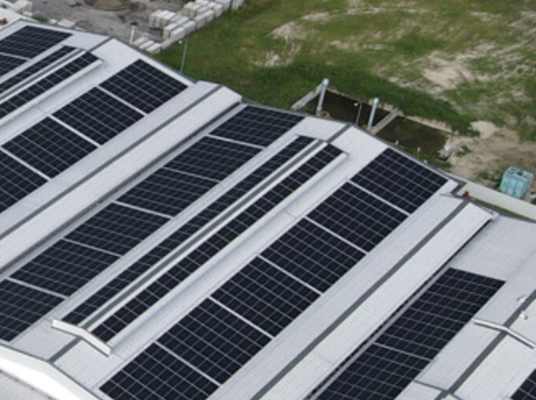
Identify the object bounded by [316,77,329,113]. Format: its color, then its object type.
gray chimney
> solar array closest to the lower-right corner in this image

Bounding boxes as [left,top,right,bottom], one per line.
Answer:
[513,370,536,400]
